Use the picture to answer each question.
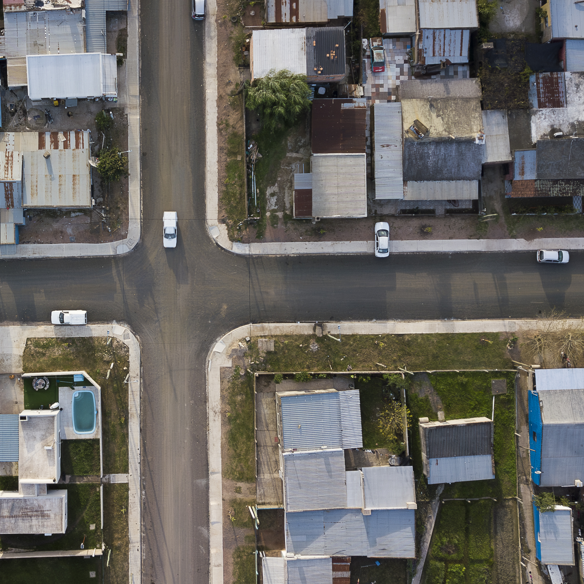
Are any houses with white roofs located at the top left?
Yes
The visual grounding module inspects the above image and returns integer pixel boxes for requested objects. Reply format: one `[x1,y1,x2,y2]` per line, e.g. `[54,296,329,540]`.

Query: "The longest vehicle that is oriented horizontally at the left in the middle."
[51,309,88,325]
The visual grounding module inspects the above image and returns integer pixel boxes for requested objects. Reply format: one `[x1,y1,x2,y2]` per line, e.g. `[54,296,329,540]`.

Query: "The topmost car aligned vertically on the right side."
[370,37,386,74]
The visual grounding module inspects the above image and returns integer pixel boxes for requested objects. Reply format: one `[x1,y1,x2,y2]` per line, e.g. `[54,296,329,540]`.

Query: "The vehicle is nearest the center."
[374,221,392,258]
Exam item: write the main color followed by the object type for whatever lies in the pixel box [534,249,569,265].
white car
